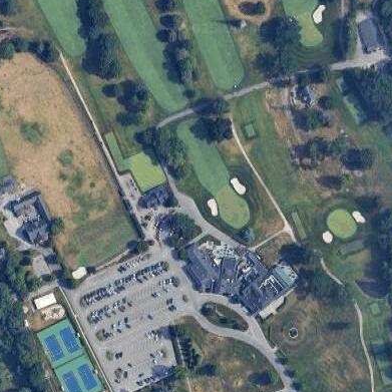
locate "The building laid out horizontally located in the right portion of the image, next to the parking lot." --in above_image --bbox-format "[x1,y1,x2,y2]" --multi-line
[182,247,302,317]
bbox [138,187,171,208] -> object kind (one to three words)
building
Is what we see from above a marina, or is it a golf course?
golf course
